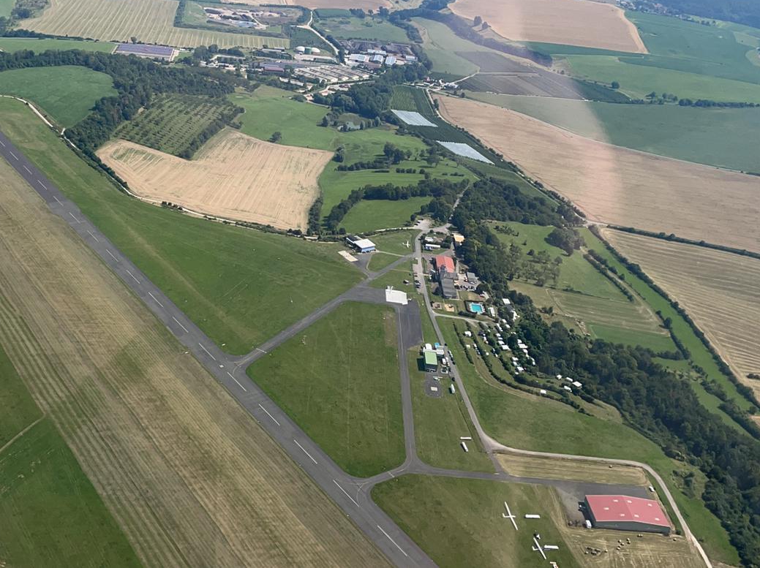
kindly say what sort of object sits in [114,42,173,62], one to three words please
shed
